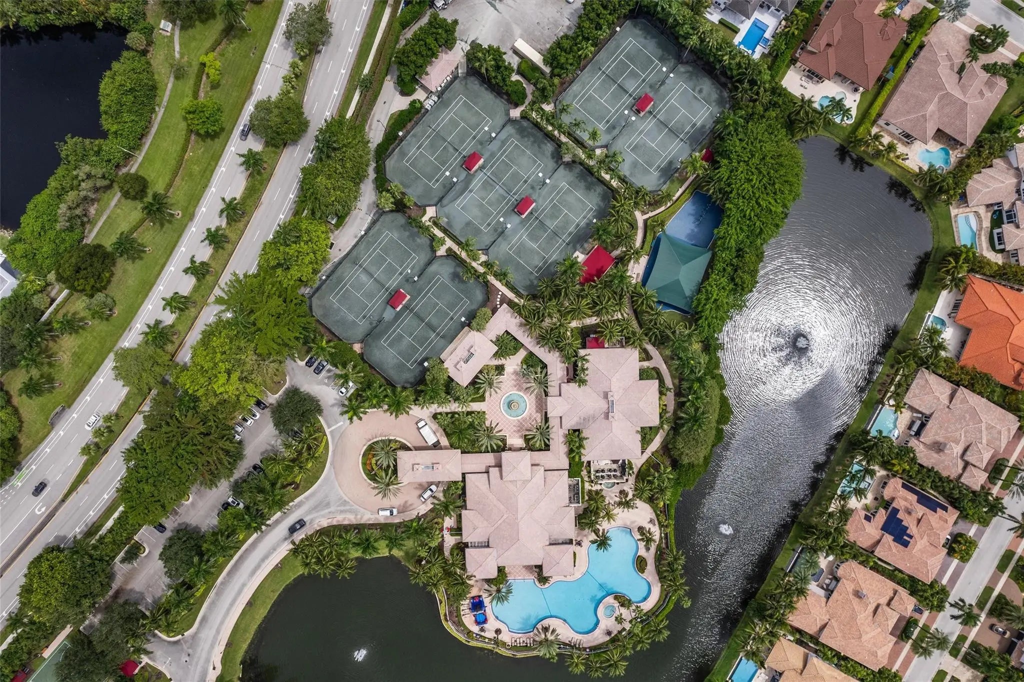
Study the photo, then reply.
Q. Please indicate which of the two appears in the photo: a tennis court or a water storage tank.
tennis court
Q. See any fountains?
Yes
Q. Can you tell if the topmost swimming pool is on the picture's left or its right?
right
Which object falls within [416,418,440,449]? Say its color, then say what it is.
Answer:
white truck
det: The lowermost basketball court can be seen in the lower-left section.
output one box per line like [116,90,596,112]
[25,641,102,682]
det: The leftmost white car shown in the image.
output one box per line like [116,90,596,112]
[85,412,100,430]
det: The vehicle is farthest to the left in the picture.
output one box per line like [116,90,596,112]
[31,479,47,497]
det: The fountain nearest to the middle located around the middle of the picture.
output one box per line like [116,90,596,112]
[501,392,527,419]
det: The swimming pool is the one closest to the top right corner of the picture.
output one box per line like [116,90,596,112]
[917,145,953,171]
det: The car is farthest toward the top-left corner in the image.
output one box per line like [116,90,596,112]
[238,122,252,141]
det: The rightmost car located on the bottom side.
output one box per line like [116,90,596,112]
[990,624,1008,638]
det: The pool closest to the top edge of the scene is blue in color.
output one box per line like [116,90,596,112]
[736,15,771,52]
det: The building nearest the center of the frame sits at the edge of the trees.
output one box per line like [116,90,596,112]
[441,327,497,387]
